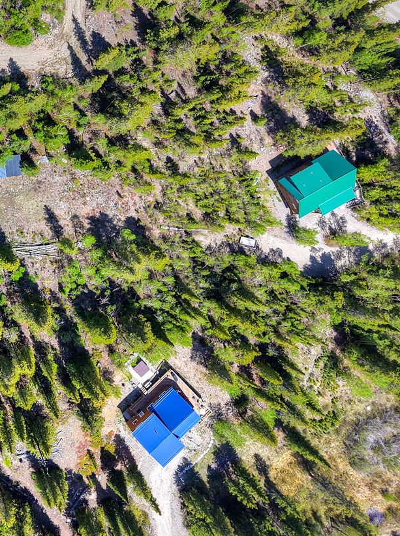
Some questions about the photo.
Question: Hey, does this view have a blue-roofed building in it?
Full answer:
Yes, a blue-roofed building can be made out from above.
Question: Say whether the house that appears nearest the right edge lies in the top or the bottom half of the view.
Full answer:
You can find the house that appears nearest the right edge in the top half.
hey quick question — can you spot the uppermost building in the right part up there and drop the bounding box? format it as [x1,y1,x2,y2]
[266,146,366,218]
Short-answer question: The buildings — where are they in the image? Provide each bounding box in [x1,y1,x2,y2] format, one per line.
[266,146,366,218]
[0,154,21,179]
[123,368,213,468]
